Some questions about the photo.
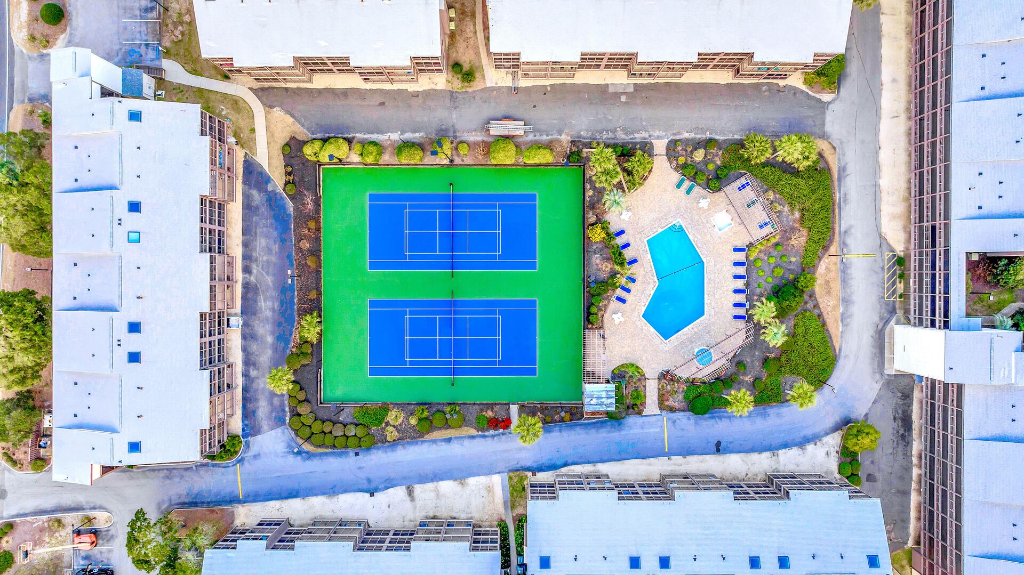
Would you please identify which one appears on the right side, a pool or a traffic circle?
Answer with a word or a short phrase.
pool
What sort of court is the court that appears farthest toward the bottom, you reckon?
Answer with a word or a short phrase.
tennis court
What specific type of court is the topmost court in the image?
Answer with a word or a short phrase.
tennis court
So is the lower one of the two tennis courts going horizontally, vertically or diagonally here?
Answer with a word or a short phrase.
horizontally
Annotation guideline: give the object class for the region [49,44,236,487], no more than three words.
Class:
building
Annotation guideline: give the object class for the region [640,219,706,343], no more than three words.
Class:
swimming pool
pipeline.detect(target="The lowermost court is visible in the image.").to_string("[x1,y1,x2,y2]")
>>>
[322,285,583,402]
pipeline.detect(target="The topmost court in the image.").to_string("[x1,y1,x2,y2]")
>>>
[322,167,583,285]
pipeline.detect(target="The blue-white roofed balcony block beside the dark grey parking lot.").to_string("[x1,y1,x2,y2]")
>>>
[924,378,1024,575]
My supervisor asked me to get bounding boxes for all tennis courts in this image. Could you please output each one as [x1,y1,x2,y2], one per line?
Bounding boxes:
[322,167,583,285]
[322,285,583,402]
